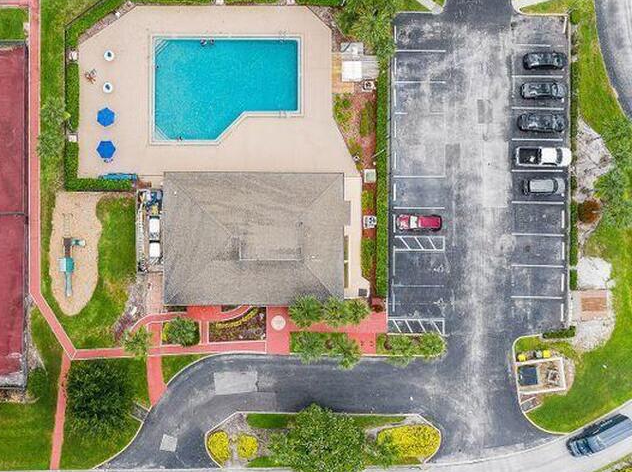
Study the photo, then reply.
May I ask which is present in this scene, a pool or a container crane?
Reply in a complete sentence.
Of the two, only a pool appears.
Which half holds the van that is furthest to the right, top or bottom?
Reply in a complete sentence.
Seen from above, the van that is furthest to the right lies in the bottom half of the view.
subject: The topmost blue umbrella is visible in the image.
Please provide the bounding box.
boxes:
[97,107,115,127]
